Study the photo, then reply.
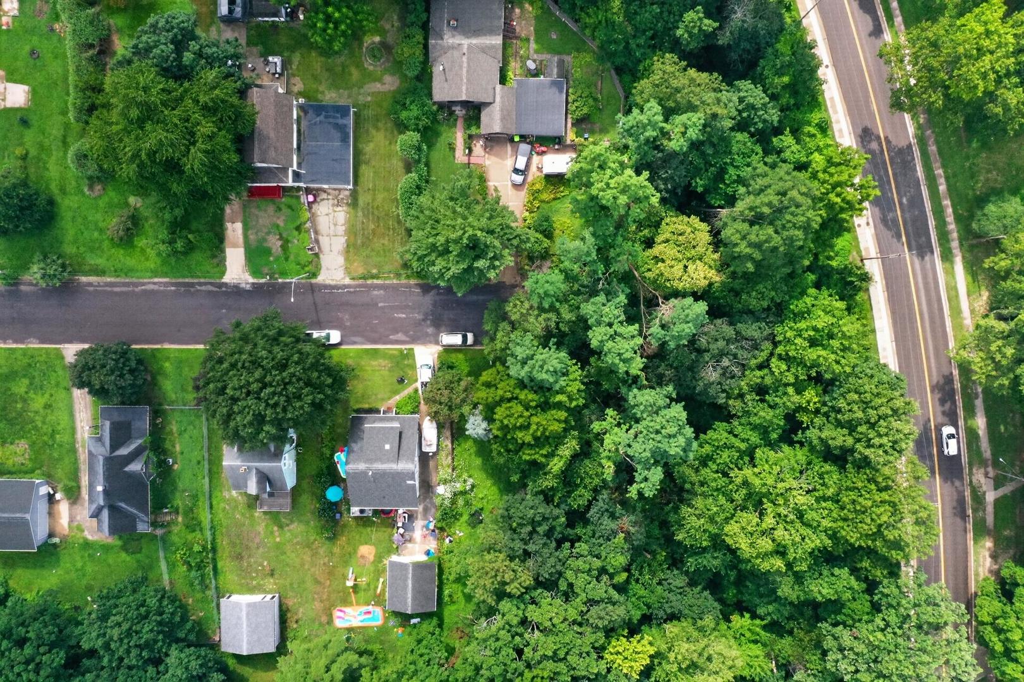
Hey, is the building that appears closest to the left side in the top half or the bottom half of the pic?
bottom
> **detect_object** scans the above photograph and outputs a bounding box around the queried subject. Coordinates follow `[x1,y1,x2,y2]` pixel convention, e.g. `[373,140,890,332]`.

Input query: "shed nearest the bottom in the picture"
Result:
[220,595,280,655]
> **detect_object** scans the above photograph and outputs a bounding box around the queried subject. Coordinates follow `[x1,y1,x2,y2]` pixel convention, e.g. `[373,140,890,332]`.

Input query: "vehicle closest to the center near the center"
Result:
[440,331,474,347]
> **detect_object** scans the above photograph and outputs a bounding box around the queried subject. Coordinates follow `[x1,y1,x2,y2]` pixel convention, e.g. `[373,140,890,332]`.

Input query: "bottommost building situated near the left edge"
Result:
[0,479,50,552]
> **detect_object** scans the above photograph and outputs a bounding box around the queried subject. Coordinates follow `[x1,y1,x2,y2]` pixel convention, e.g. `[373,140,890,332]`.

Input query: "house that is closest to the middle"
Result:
[346,414,421,510]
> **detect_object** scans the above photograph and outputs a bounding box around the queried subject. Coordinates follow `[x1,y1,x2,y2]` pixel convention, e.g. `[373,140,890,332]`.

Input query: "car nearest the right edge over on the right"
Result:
[938,424,958,456]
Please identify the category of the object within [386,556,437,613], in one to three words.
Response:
building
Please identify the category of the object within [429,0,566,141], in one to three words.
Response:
house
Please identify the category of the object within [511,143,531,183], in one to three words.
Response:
vehicle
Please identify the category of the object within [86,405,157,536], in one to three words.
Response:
house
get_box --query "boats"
[423,418,437,457]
